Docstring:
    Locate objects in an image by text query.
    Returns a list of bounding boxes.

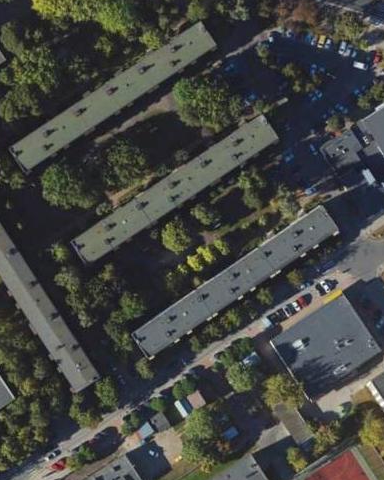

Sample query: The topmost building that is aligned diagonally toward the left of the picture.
[8,21,216,172]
